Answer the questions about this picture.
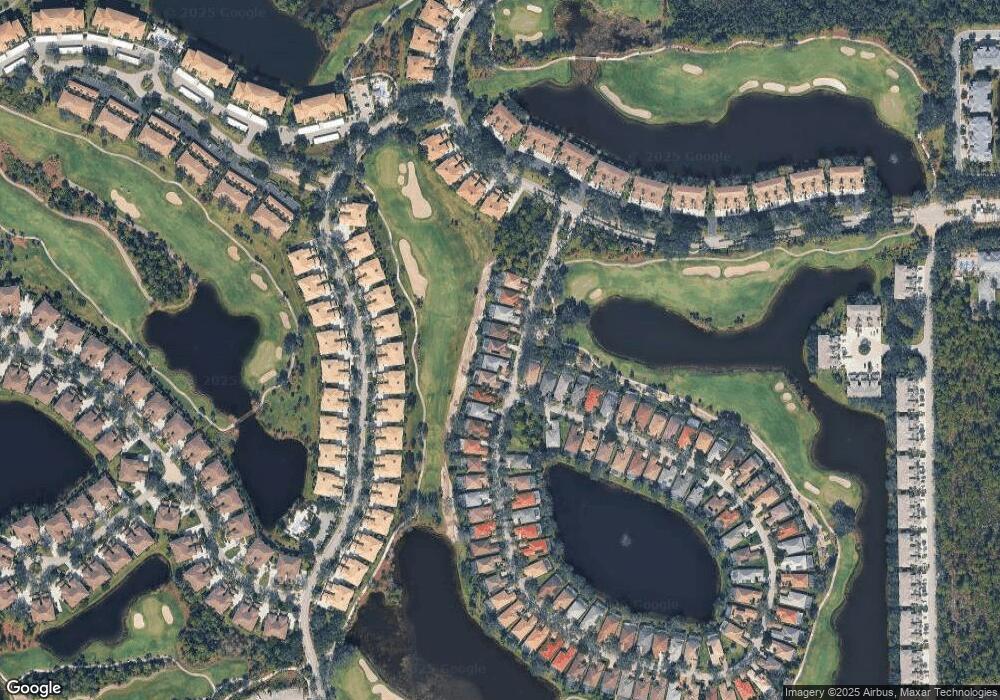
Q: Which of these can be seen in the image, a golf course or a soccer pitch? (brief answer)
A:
golf course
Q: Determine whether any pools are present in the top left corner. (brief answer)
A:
Yes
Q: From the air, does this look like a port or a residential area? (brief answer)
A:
residential area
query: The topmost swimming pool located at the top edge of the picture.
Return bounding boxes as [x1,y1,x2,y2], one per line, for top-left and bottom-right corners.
[148,26,182,53]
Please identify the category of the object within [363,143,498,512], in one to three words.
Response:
golf course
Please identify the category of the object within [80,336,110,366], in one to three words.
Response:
house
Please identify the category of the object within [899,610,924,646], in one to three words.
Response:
building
